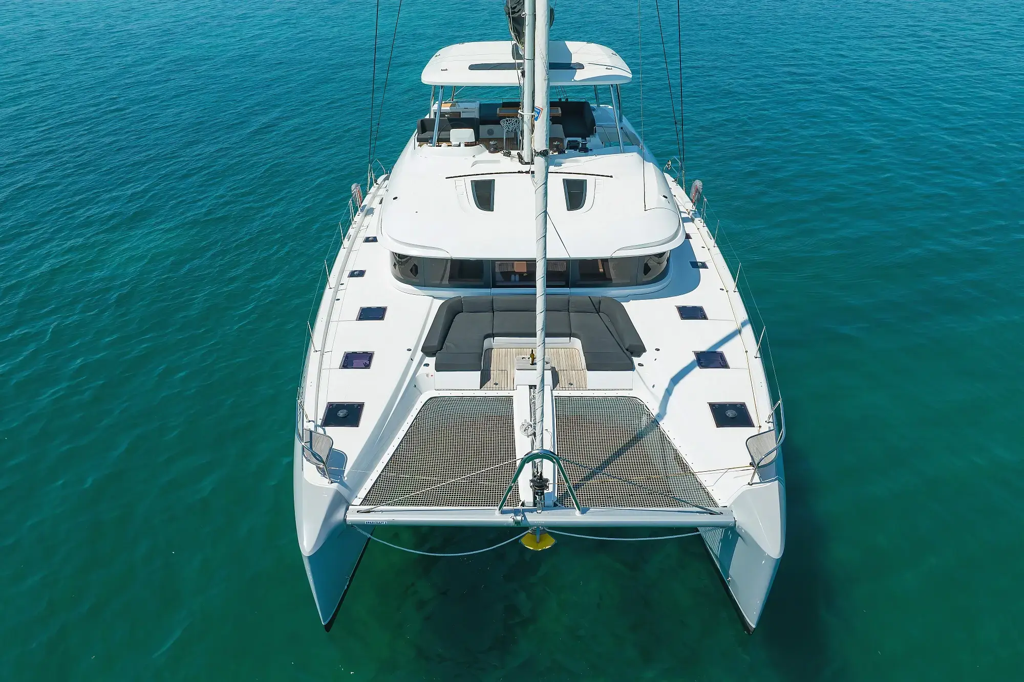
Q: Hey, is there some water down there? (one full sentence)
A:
Yes, there is water in the image.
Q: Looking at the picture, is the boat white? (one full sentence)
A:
Yes, the boat is white.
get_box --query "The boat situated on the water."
[292,0,781,632]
